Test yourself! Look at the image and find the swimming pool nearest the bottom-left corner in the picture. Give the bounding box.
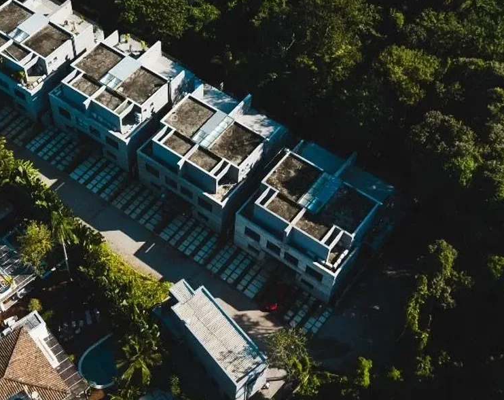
[77,334,137,389]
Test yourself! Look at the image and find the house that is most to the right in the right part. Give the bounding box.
[234,139,400,302]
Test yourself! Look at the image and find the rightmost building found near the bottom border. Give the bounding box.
[168,281,267,400]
